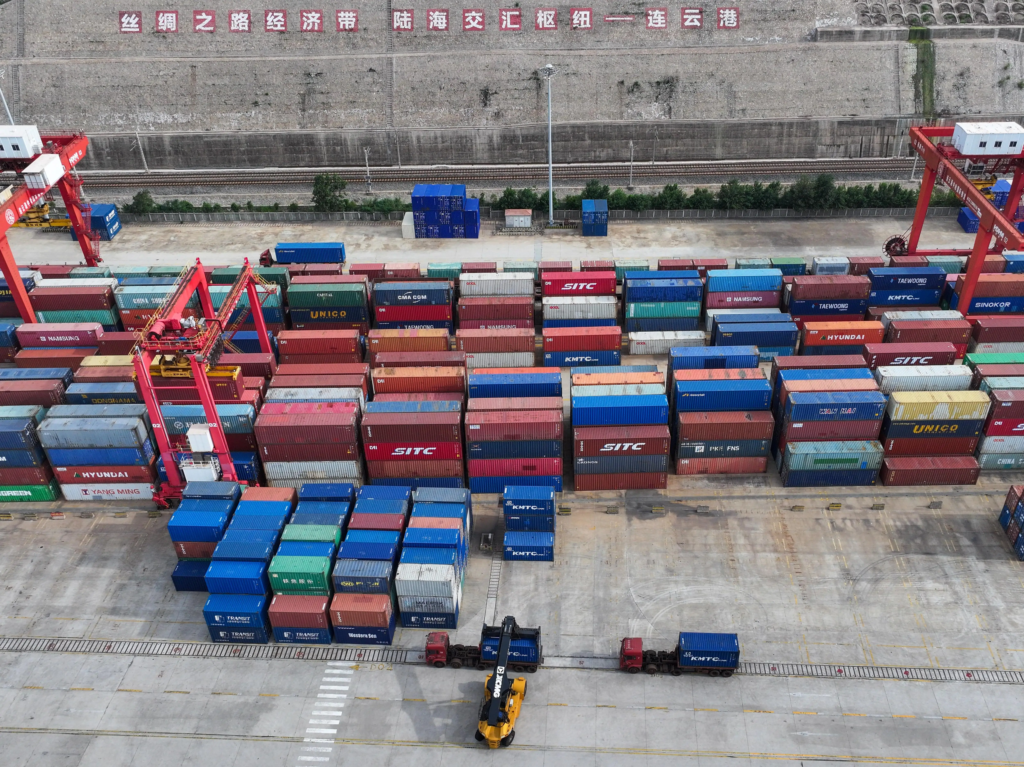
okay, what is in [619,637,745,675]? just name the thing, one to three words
truck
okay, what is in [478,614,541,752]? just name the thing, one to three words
work vehicle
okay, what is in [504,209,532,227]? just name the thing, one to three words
shed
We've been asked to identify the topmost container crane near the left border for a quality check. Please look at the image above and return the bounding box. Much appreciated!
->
[0,127,109,349]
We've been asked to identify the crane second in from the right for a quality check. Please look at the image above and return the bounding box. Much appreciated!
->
[124,257,296,509]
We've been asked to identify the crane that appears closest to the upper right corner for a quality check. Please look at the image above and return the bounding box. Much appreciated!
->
[885,117,1024,325]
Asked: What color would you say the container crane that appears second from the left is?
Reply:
red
